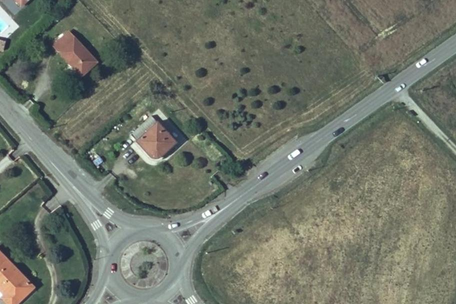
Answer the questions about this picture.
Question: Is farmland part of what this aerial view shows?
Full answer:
Yes, farmland shows up in the scene.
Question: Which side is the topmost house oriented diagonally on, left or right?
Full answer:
The topmost house oriented diagonally sits on the left side.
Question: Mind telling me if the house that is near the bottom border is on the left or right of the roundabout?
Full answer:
Relative to the roundabout, the house that is near the bottom border is on the left.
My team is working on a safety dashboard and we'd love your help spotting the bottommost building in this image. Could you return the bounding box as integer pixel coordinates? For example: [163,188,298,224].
[0,251,35,304]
